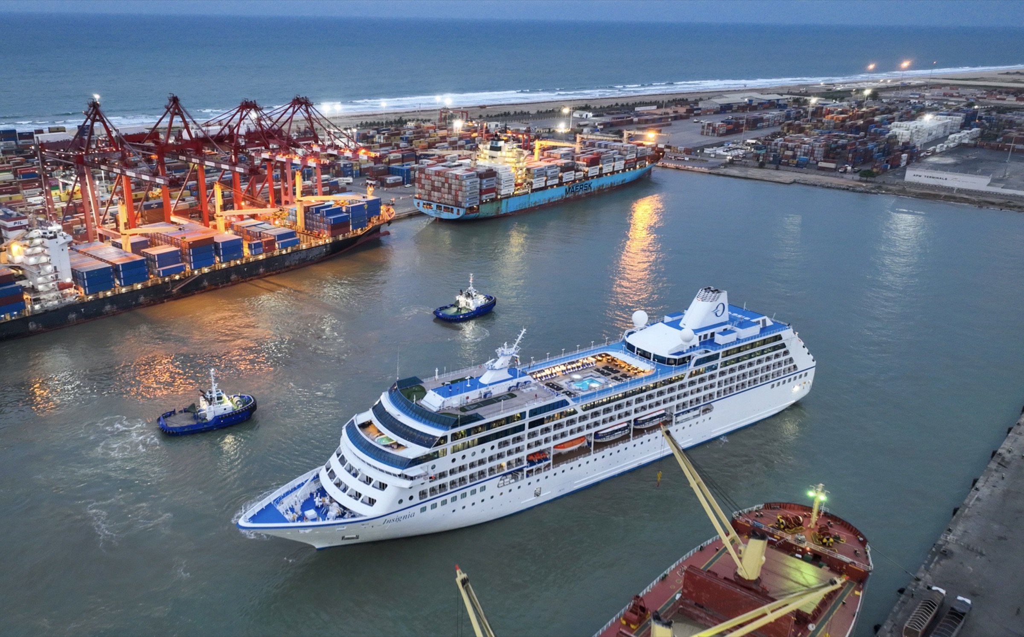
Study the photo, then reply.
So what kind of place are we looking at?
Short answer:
port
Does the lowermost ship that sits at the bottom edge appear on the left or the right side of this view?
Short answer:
right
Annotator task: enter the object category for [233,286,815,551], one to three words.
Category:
ship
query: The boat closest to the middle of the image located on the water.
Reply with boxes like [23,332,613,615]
[430,267,498,319]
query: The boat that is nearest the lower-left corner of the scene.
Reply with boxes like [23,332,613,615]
[154,368,259,438]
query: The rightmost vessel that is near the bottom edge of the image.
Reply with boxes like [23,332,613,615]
[601,424,874,637]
